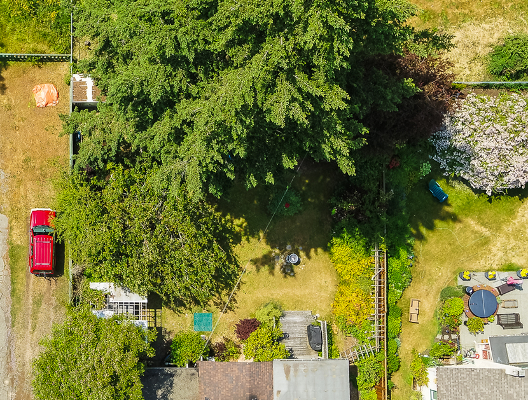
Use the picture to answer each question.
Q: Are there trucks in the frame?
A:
No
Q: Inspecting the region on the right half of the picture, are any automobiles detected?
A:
No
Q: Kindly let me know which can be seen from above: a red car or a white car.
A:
red car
